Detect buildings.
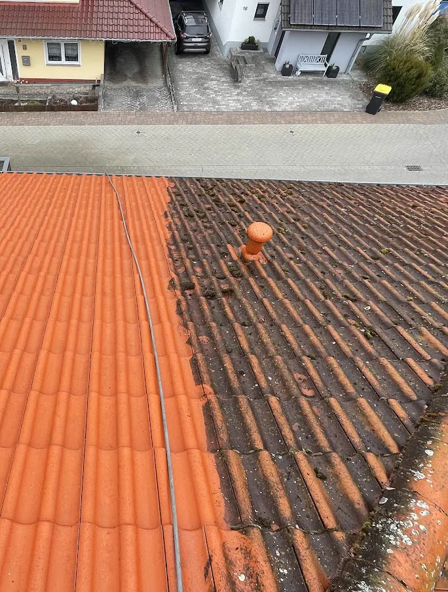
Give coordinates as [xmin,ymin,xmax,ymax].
[0,0,182,89]
[0,171,448,592]
[203,0,448,77]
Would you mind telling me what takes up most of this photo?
buildings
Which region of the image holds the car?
top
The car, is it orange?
No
